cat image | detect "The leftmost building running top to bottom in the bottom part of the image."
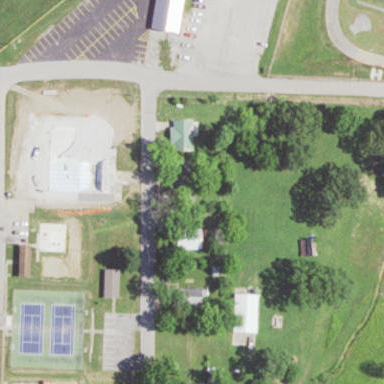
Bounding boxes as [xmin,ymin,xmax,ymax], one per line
[19,246,31,277]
